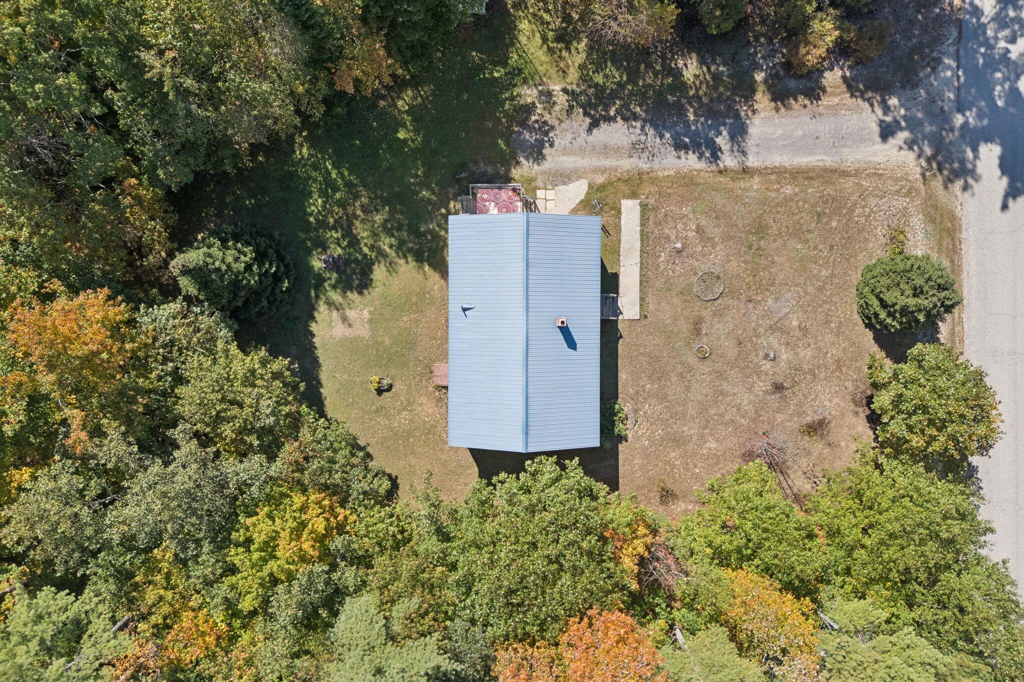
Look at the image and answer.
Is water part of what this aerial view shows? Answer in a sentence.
No, the picture contains no water.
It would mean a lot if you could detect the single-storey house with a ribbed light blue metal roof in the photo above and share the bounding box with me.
[448,212,601,453]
